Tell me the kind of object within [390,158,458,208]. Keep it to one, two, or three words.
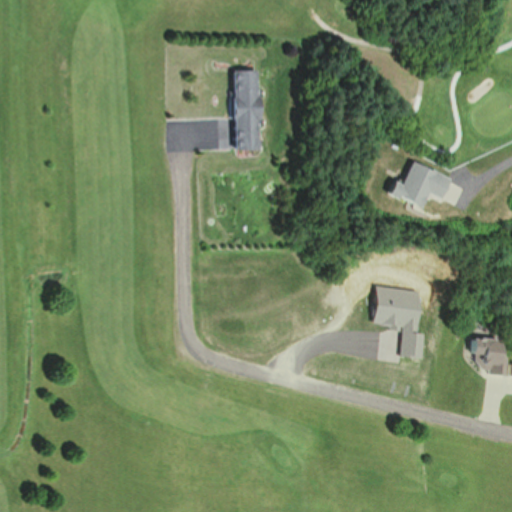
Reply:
house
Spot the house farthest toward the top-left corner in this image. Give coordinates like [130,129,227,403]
[228,69,264,150]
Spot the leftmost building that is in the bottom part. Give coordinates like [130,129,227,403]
[375,286,426,358]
